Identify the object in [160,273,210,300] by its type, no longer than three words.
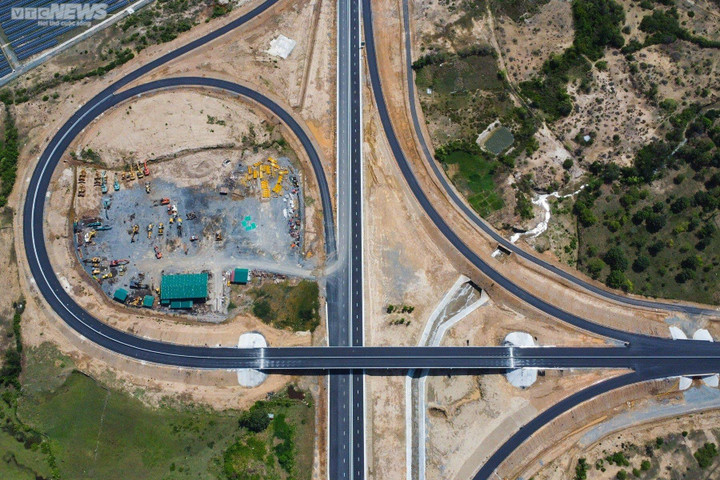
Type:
building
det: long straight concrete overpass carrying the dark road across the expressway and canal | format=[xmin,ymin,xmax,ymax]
[238,331,536,388]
